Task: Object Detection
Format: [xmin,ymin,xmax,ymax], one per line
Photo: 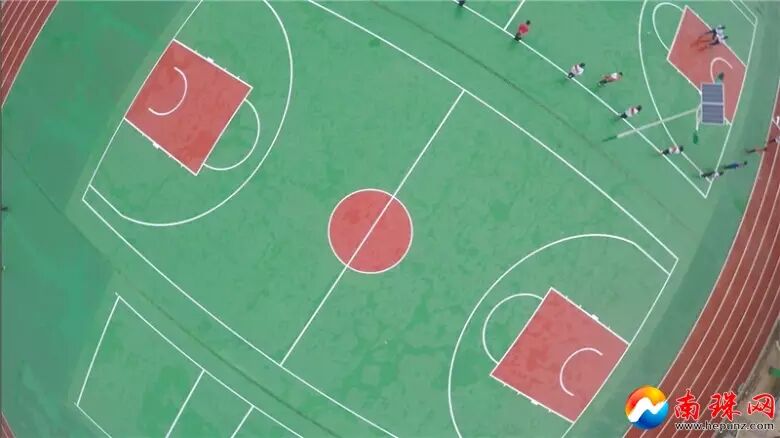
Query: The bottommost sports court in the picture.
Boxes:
[62,265,346,438]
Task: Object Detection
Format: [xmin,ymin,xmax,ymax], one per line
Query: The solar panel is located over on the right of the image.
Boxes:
[702,83,724,124]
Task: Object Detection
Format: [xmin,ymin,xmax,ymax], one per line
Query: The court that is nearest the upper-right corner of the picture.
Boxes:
[378,0,768,241]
